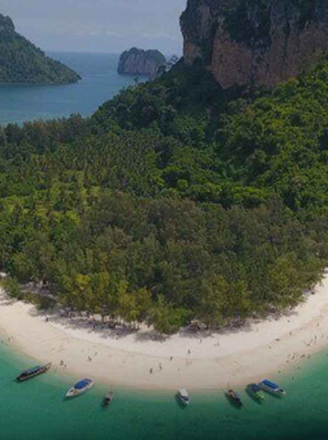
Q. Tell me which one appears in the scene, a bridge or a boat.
boat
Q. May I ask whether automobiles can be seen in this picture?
No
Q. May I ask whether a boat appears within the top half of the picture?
No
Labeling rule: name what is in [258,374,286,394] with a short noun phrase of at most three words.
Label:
boat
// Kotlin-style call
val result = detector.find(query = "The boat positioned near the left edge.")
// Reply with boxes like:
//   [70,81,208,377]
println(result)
[8,357,50,384]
